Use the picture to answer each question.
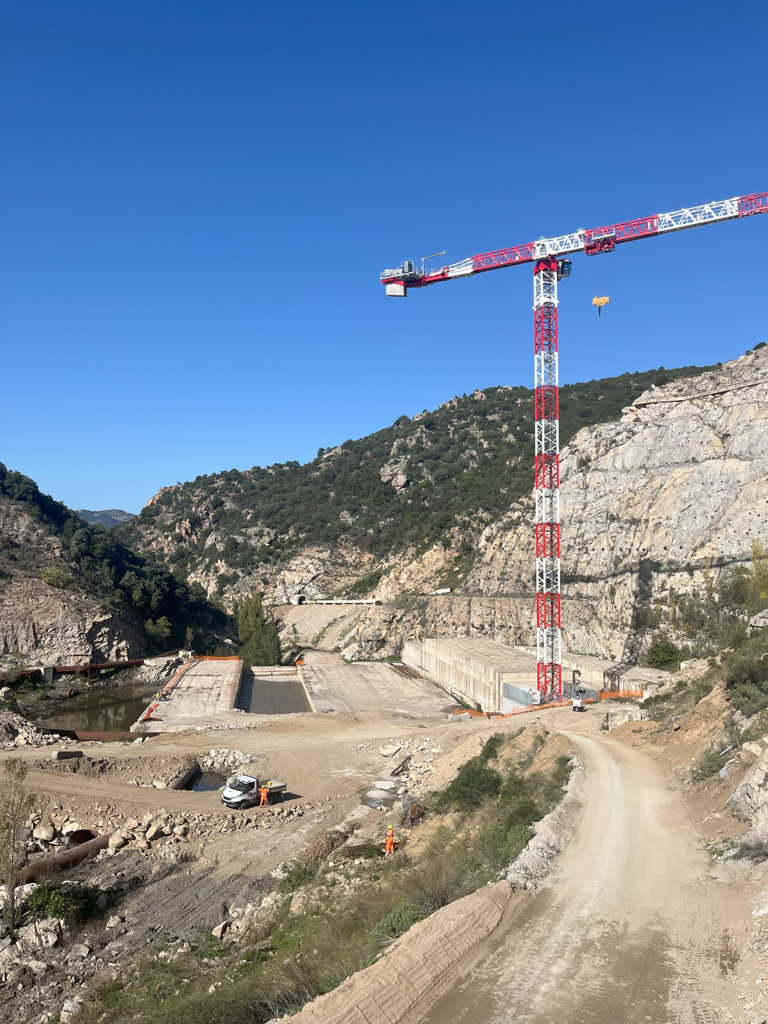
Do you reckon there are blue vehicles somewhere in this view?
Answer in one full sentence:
No, there is no blue vehicle in the image.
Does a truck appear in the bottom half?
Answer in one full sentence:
Yes, I can see a truck in the bottom half.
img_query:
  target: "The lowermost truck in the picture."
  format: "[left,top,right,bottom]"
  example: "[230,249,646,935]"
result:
[219,773,285,809]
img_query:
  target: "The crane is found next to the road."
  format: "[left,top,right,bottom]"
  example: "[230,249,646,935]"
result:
[377,189,768,700]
